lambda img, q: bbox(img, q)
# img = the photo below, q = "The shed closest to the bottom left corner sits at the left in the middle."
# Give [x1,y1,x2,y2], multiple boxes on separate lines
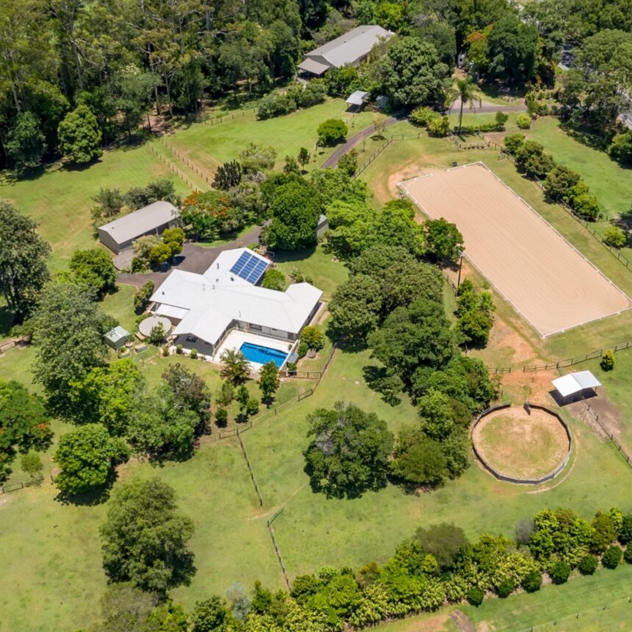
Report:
[105,326,131,351]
